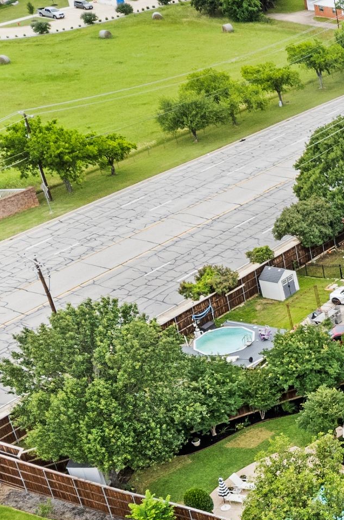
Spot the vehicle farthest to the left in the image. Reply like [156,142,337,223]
[37,4,66,19]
